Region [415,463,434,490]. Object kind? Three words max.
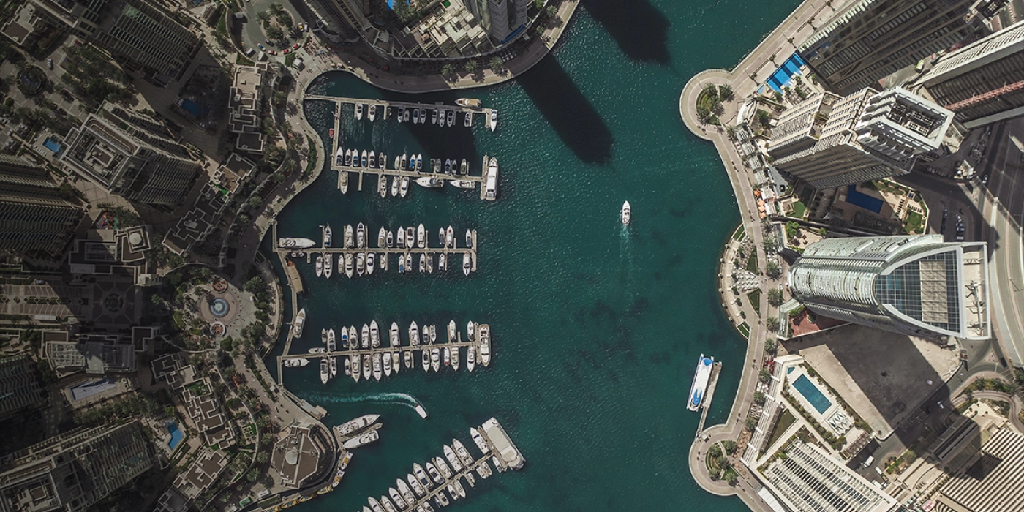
boat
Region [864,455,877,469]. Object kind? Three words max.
vehicle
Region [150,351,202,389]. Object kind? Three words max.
house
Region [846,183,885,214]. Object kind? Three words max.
swimming pool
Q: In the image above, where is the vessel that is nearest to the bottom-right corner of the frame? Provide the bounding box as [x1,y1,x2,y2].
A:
[687,355,713,410]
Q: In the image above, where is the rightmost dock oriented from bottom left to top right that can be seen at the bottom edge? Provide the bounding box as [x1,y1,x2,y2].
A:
[391,427,506,512]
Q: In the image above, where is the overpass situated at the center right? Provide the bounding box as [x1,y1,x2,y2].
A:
[986,117,1024,396]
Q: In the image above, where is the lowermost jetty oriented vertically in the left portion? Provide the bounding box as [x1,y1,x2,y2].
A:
[275,252,298,356]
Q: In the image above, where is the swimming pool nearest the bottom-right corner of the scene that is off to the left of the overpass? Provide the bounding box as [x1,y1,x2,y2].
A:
[792,372,834,416]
